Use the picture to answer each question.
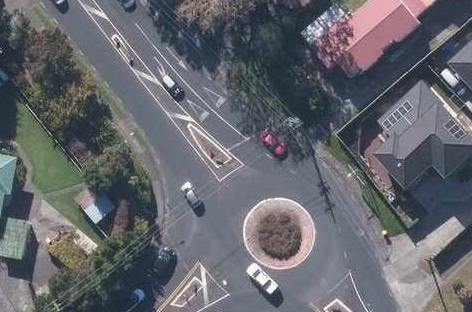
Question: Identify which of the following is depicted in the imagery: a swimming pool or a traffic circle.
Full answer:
There is a traffic circle in the scene.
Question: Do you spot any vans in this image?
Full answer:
Yes, I can see a van in this picture.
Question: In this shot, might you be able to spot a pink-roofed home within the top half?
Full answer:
Yes, a pink-roofed home appears within the top half.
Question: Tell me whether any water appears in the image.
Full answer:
No, there is no water in the image.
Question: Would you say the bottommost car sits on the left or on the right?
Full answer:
You can find the bottommost car on the left side of the picture.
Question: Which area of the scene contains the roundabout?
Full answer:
You can find the roundabout in the bottom area of the picture.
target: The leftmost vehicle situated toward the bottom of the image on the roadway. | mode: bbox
[119,288,146,312]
